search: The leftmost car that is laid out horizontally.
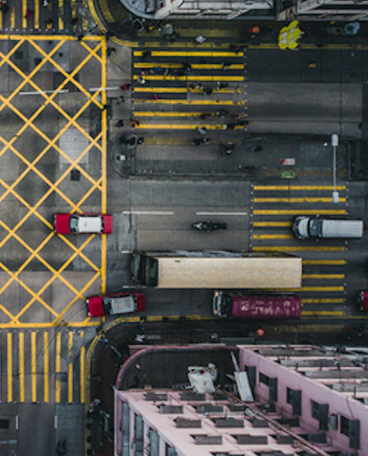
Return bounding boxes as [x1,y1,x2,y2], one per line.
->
[51,210,112,237]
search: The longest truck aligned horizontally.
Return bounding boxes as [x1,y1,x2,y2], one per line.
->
[115,251,303,288]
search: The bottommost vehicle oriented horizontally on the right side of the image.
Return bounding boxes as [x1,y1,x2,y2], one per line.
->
[211,290,315,323]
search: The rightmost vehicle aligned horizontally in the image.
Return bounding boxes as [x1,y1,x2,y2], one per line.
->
[292,214,367,242]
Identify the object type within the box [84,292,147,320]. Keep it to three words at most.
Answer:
car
